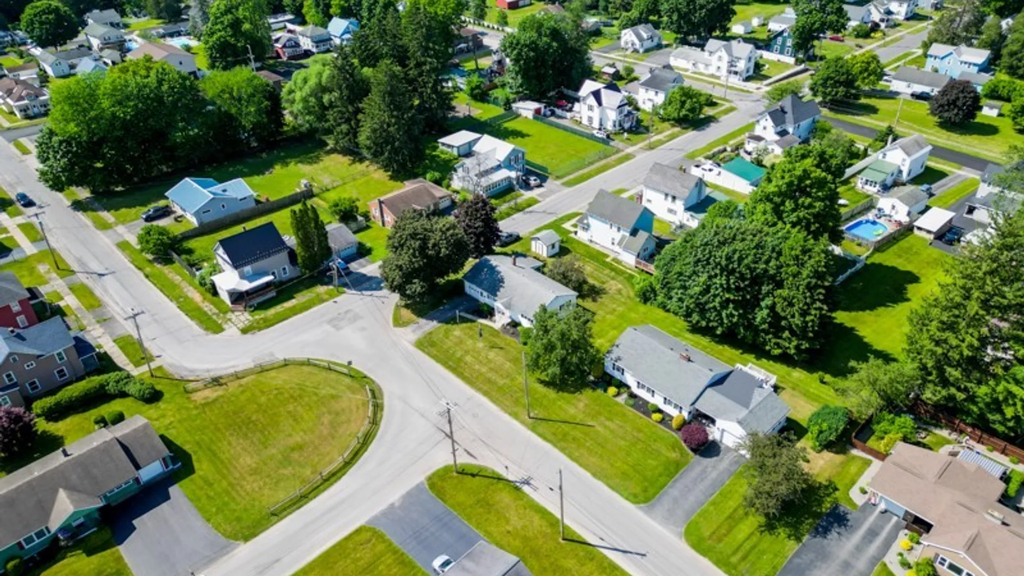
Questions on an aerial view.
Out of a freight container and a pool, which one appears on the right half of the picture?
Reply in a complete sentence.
You can see a pool on the right half of the picture.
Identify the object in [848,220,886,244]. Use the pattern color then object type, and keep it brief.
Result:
blue swimming pool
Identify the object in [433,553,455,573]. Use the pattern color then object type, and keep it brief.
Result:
white car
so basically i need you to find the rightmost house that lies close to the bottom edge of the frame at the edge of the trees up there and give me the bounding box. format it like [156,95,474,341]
[868,440,1024,576]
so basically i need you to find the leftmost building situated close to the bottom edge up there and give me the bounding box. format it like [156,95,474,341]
[0,414,173,560]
